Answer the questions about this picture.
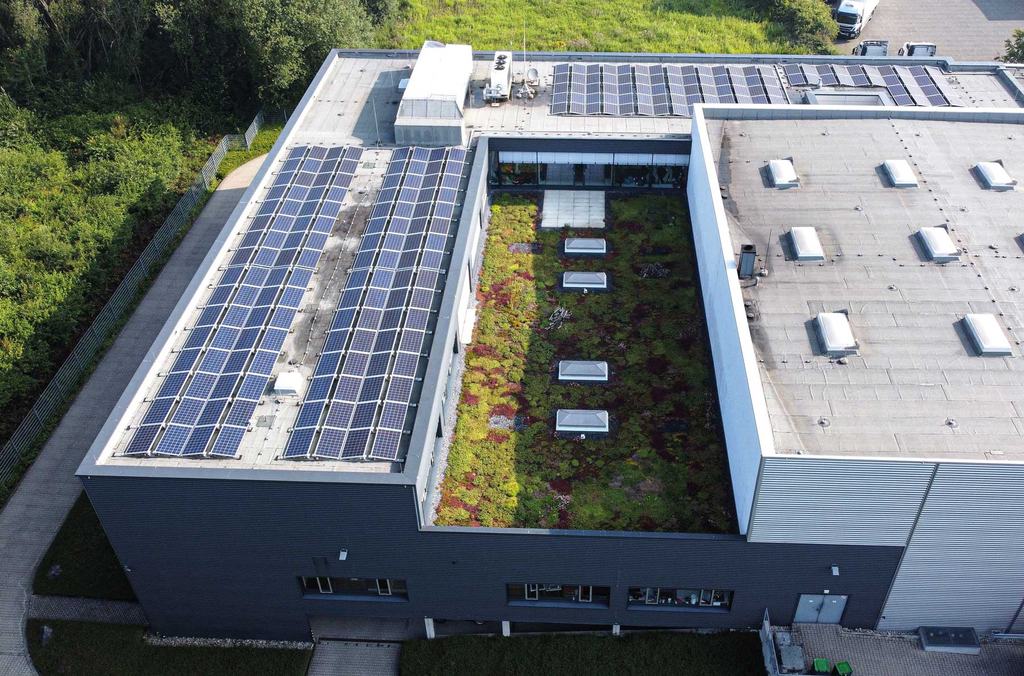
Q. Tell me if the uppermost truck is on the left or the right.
right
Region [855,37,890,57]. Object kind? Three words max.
vehicle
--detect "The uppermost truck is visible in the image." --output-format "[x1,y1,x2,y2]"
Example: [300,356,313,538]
[837,0,882,35]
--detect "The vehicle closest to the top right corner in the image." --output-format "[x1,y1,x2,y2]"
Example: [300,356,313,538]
[900,41,936,57]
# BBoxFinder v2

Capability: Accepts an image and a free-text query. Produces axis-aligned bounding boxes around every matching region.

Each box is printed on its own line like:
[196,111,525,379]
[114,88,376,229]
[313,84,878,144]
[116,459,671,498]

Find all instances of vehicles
[837,0,882,35]
[900,41,936,57]
[855,37,890,57]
